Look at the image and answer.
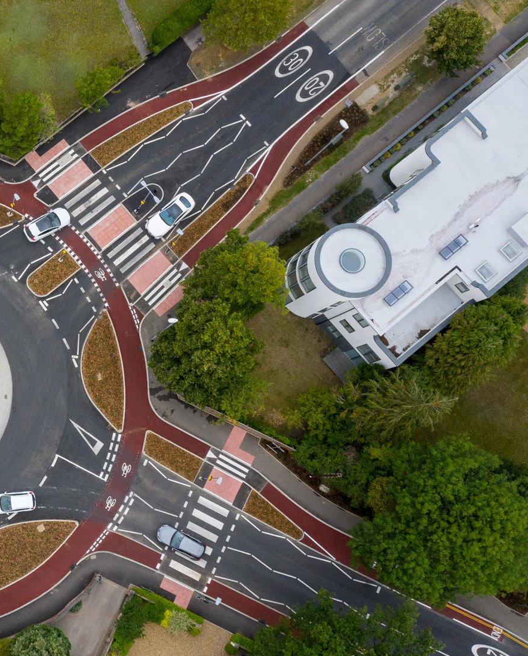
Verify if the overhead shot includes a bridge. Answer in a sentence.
No, there isn't any bridge down there.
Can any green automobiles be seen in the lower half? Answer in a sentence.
No, looking in the lower half, there is no green automobile.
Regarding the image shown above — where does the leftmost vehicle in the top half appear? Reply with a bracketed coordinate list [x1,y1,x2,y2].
[20,207,72,241]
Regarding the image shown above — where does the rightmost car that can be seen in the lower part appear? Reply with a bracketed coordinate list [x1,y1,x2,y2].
[154,523,210,564]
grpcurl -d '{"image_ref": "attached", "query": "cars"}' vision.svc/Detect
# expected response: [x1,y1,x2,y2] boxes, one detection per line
[0,490,37,515]
[145,189,199,238]
[20,207,72,241]
[154,523,210,564]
